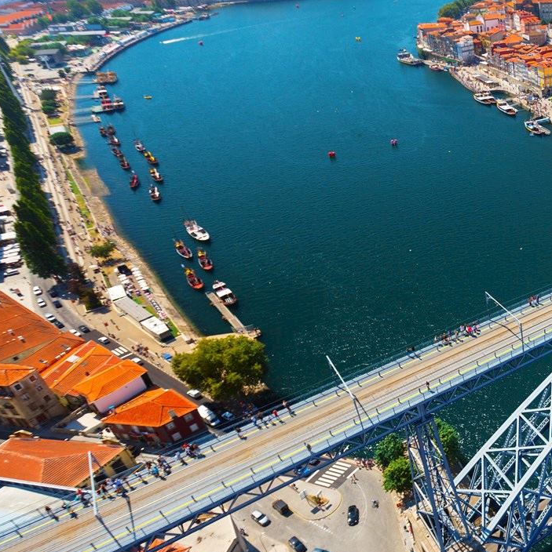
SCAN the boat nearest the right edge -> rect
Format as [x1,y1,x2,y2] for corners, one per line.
[524,119,546,133]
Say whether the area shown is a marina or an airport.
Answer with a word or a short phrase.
marina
